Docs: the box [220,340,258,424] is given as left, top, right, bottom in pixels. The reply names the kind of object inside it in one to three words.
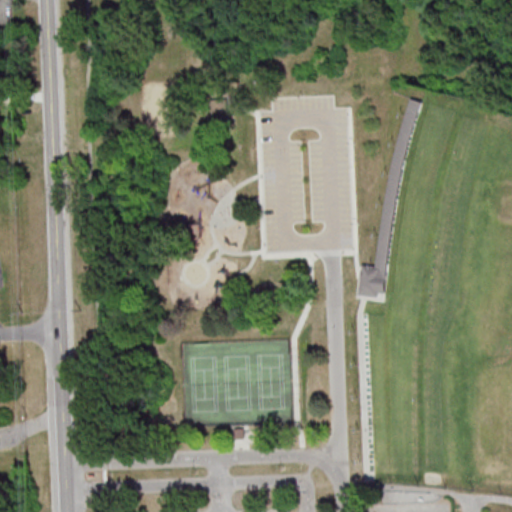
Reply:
tennis court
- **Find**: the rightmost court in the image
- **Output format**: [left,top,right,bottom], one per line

[254,339,294,422]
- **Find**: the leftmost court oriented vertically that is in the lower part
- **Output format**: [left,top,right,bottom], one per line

[184,342,224,424]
